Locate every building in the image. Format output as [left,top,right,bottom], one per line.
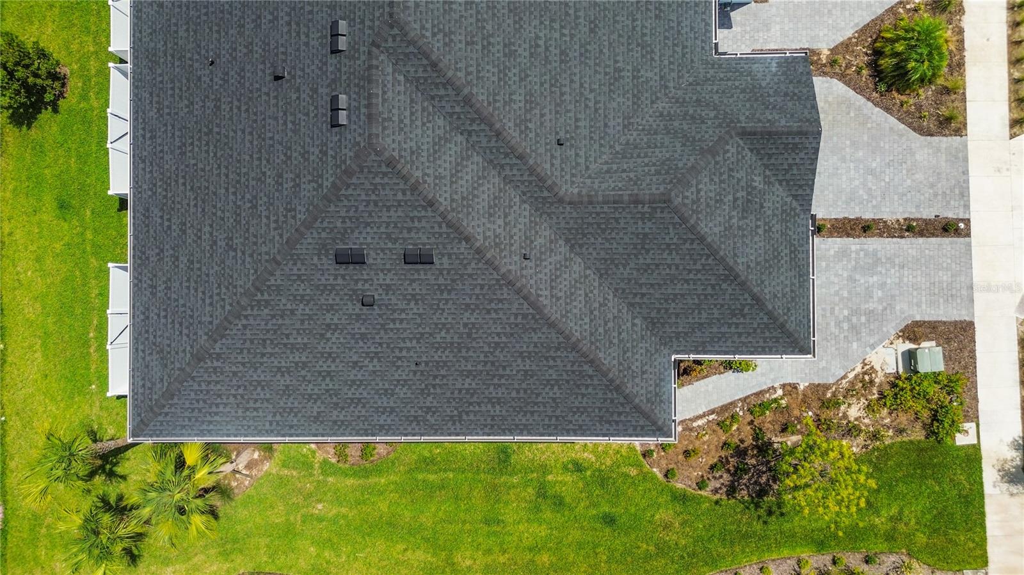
[126,0,821,444]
